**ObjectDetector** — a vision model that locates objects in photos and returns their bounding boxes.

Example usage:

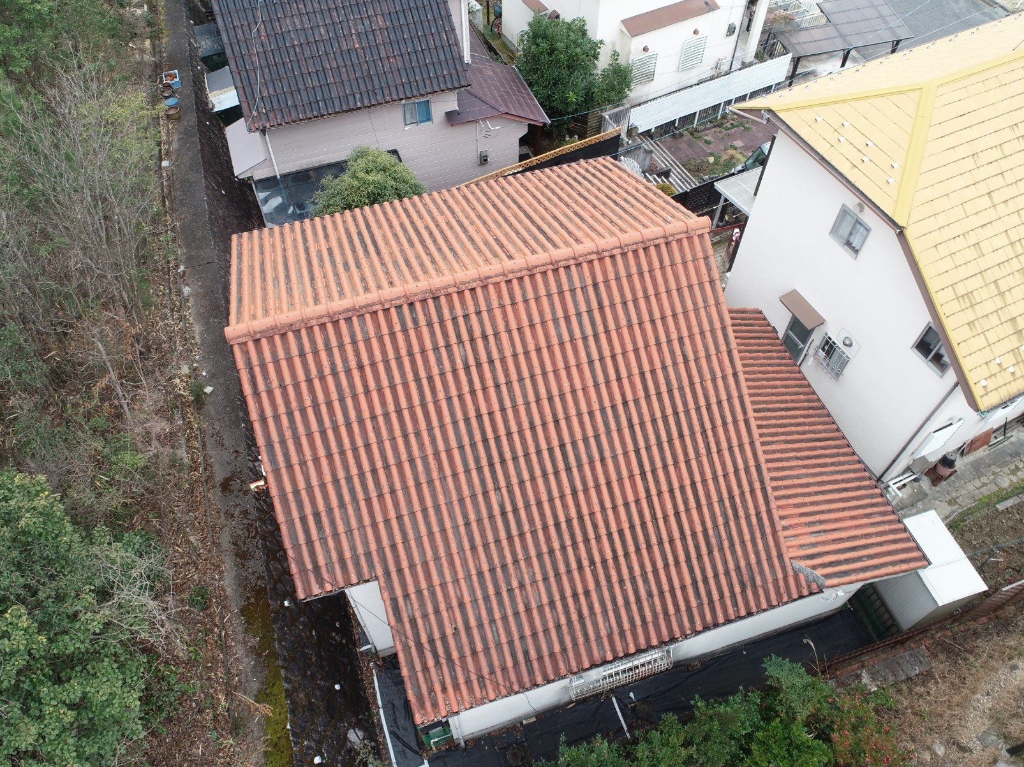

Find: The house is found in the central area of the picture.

[221,155,925,747]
